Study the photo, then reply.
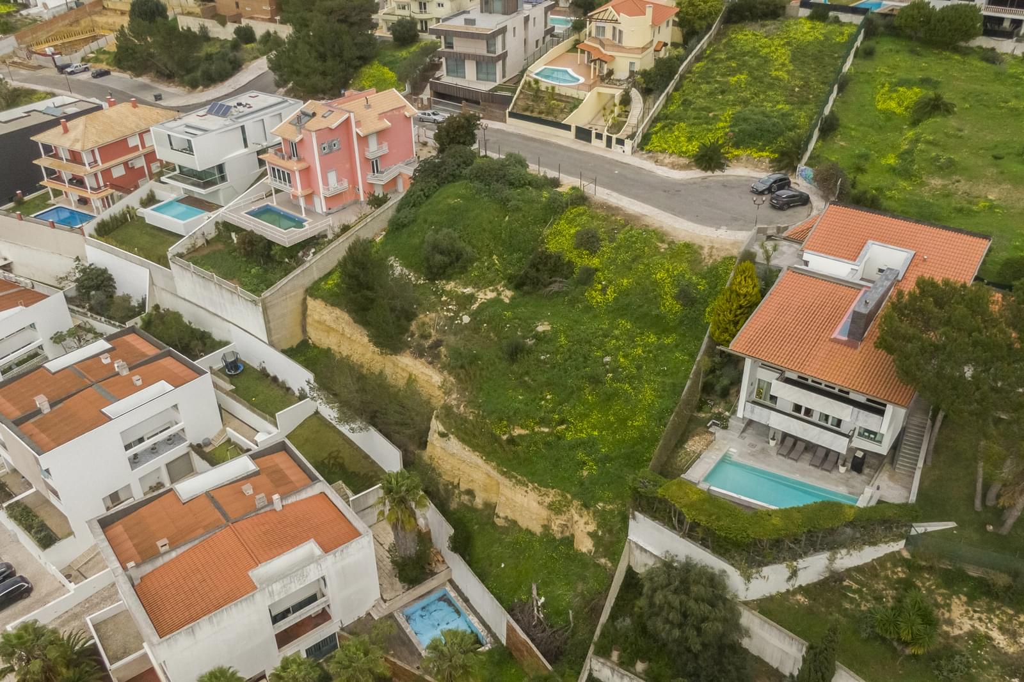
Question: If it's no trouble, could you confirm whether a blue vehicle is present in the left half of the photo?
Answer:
No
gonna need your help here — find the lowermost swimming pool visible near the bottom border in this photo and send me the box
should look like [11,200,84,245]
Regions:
[398,586,494,682]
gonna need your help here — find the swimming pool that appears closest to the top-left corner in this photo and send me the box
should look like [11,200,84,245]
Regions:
[30,205,97,231]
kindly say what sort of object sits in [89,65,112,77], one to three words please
vehicle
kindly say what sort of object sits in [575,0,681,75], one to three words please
house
